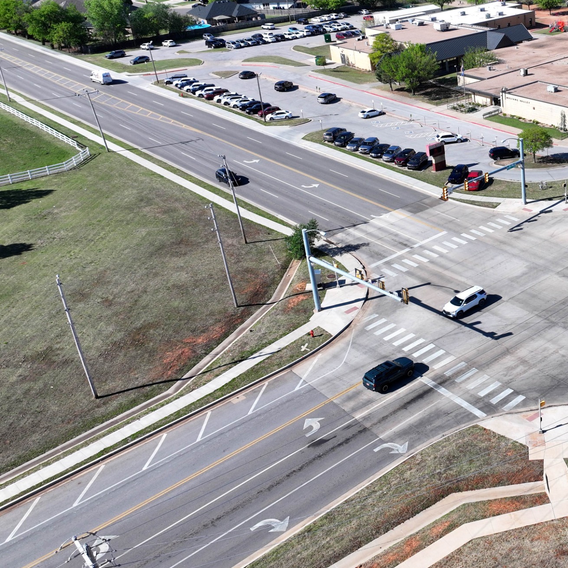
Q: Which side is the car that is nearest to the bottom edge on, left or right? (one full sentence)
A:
You can find the car that is nearest to the bottom edge on the right side of the picture.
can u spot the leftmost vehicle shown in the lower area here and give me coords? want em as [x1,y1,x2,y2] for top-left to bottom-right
[358,360,417,398]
